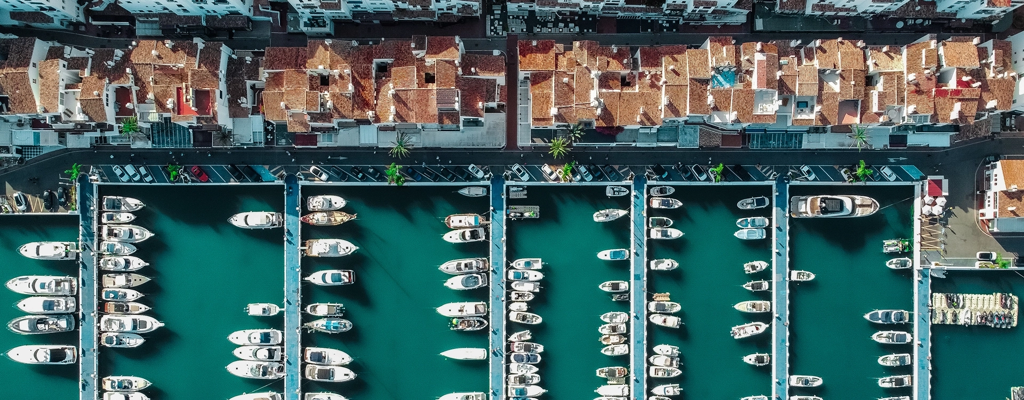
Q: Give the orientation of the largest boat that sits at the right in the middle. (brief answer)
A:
horizontally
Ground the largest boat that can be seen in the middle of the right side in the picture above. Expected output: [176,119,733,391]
[789,188,918,219]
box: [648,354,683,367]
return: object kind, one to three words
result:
boat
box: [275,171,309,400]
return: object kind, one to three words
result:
pier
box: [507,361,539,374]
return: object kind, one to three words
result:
boat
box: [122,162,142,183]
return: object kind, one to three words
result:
car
